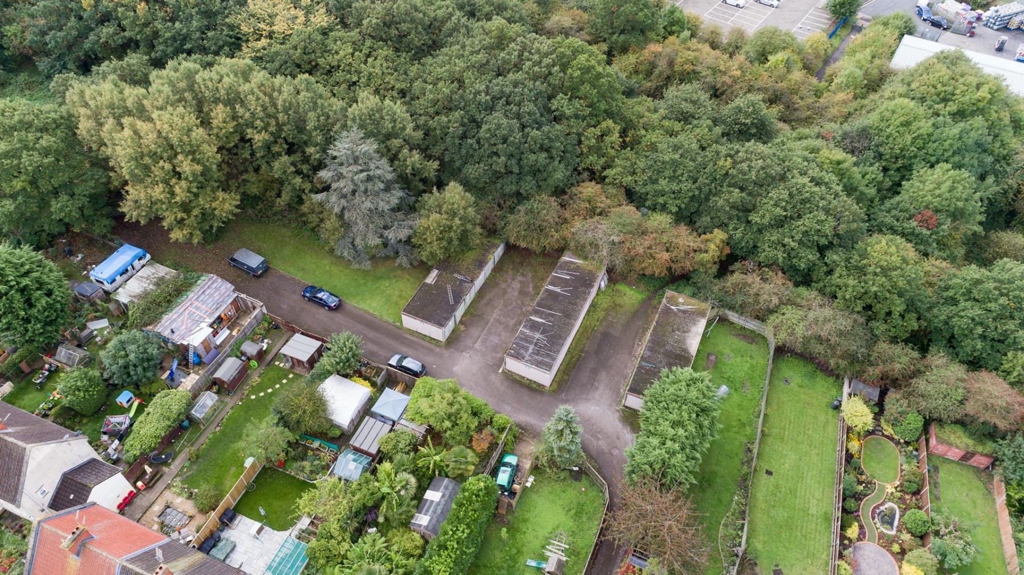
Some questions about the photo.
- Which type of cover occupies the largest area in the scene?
trees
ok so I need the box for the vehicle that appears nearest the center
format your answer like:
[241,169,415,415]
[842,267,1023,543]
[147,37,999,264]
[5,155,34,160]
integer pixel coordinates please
[386,353,428,378]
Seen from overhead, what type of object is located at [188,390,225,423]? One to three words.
greenhouse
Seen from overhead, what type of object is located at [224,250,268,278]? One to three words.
van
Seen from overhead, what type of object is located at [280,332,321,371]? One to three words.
shed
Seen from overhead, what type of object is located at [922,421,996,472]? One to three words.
building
